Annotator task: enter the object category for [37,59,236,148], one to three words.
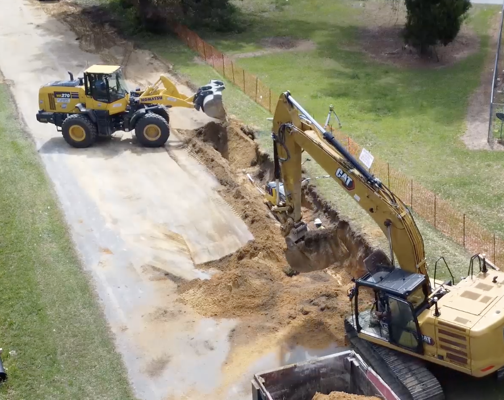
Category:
work vehicle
